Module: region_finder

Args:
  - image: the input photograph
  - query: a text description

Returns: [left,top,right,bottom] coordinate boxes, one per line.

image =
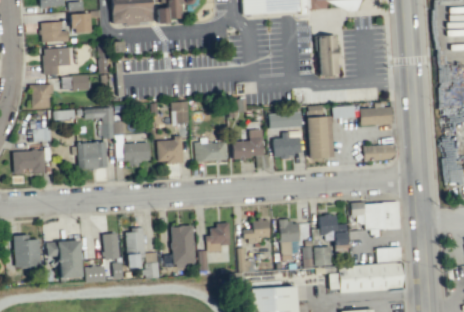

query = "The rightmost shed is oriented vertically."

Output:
[440,132,458,184]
